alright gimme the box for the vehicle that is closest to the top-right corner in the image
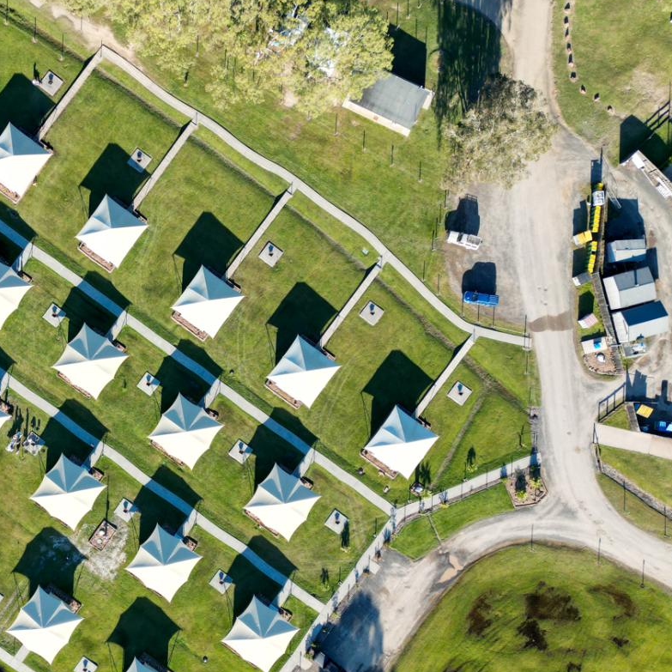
[445,232,482,248]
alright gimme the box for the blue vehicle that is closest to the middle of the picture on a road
[464,292,498,306]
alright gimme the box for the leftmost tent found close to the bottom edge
[8,566,94,660]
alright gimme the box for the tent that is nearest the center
[252,327,338,419]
